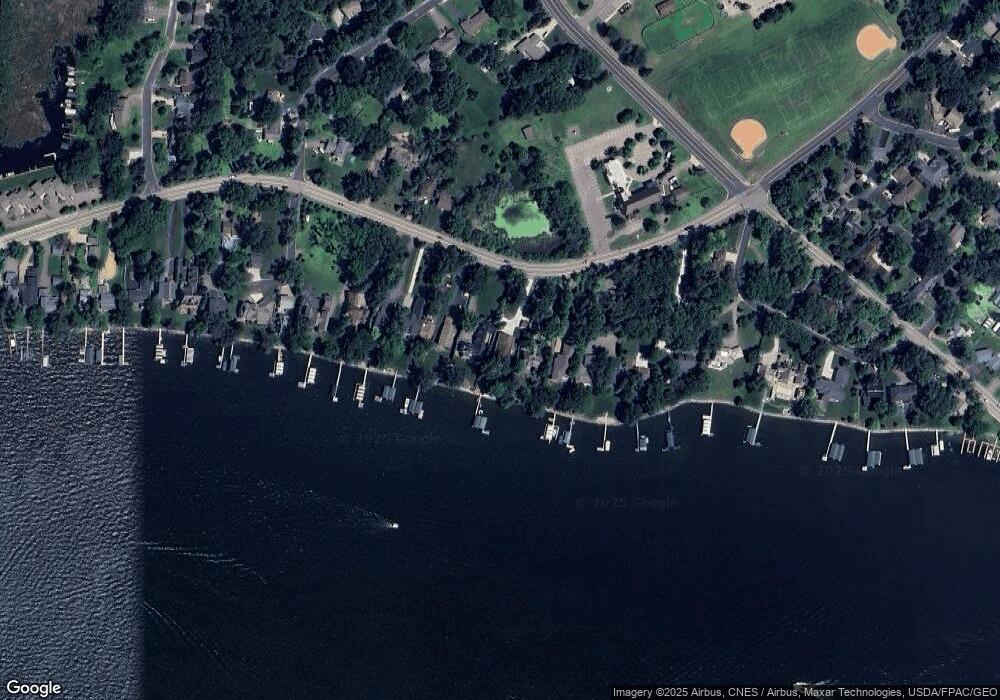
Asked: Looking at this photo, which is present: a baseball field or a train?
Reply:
baseball field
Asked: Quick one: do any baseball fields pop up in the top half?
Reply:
Yes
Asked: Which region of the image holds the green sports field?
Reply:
top right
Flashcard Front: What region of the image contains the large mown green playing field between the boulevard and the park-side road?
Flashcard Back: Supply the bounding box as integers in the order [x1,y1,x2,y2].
[652,0,914,183]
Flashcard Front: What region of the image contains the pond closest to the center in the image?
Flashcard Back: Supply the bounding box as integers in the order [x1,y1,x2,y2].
[494,198,549,238]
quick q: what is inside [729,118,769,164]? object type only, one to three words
baseball field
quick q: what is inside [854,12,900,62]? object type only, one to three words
baseball field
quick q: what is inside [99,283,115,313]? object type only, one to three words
house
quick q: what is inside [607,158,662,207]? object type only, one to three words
building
